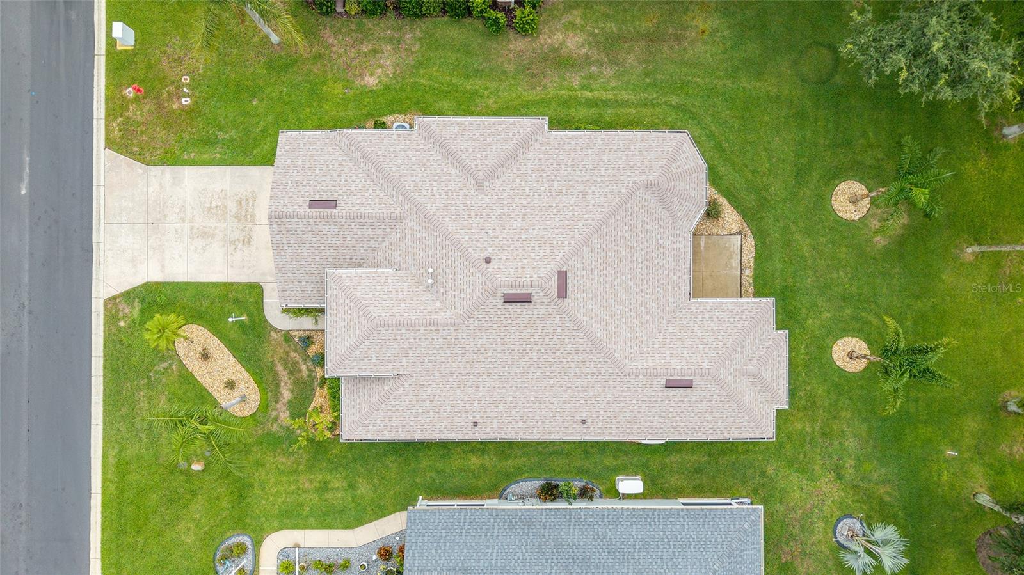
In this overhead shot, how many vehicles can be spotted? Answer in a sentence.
No vehicles are visible.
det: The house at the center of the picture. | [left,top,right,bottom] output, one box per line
[268,115,788,441]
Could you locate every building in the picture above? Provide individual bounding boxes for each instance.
[268,115,788,441]
[404,491,763,575]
